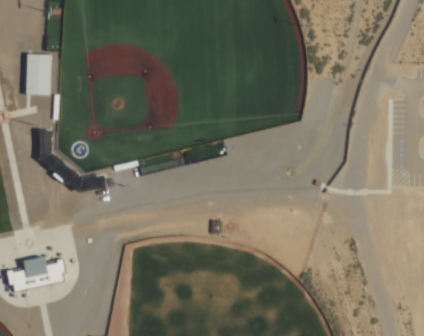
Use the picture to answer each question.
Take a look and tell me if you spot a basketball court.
No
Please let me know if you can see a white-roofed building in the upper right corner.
No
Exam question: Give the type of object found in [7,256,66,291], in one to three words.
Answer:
building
